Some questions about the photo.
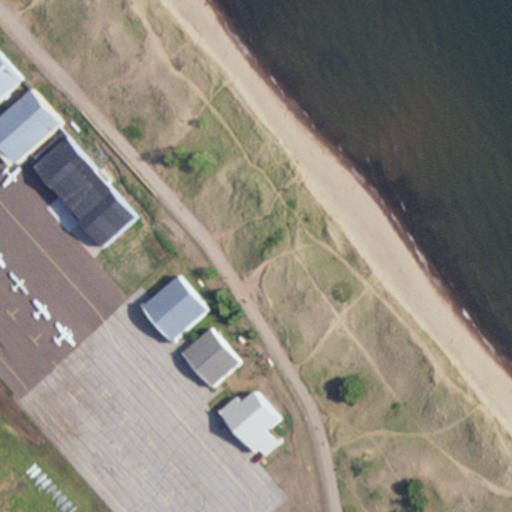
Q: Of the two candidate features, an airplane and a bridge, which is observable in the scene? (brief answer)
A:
airplane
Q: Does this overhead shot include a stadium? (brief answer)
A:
No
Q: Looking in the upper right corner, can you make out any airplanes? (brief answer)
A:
No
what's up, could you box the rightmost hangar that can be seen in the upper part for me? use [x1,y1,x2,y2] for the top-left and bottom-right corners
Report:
[36,131,136,248]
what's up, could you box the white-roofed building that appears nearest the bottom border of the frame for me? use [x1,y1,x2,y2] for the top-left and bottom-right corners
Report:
[218,391,282,458]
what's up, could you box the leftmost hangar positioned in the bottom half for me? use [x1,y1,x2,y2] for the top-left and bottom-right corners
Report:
[142,274,210,344]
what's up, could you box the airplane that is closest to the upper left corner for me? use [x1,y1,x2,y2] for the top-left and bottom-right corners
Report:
[2,167,20,186]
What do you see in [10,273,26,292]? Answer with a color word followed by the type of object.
white airplane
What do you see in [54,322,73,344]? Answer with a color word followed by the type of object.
white airplane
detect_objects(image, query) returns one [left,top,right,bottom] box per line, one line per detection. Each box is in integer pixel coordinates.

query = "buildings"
[36,131,136,248]
[0,86,62,166]
[142,274,210,344]
[0,50,24,106]
[183,328,241,388]
[218,391,282,458]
